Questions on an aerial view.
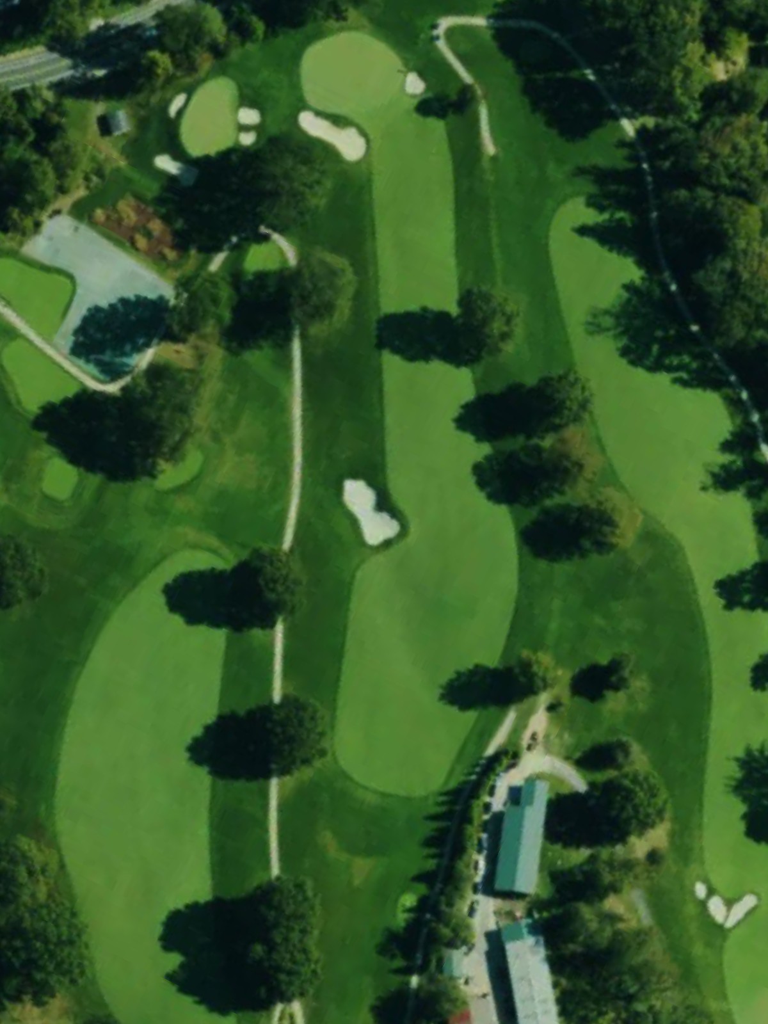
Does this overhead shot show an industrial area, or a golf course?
golf course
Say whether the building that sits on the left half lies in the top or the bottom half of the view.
top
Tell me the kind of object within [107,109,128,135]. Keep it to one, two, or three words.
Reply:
building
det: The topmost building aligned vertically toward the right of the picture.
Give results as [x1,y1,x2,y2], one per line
[494,779,549,895]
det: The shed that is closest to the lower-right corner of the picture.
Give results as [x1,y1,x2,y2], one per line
[504,920,558,1024]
